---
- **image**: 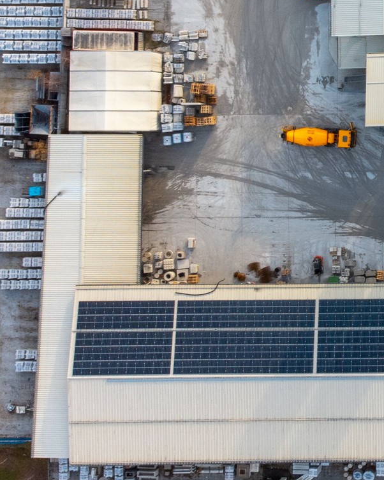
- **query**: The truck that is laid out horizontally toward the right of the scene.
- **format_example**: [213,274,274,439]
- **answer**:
[278,126,362,151]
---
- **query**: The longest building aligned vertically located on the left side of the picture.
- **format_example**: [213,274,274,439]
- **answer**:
[31,135,145,457]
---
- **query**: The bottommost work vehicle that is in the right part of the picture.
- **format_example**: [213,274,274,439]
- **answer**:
[311,255,327,282]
